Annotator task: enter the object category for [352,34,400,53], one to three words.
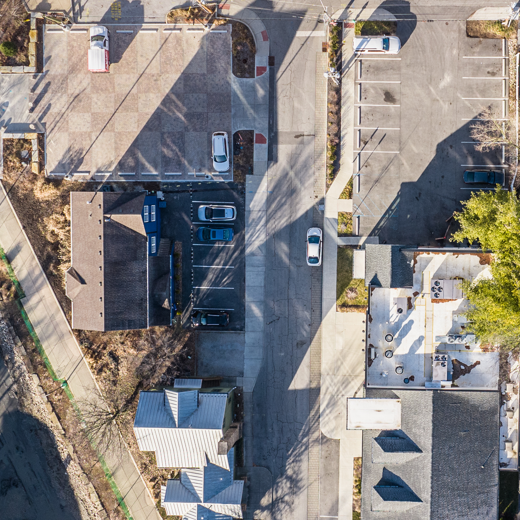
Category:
car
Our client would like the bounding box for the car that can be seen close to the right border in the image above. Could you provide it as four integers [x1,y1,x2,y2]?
[463,168,504,186]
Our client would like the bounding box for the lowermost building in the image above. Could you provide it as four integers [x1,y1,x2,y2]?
[134,384,250,520]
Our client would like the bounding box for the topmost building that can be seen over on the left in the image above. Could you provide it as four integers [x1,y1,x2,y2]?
[66,191,179,332]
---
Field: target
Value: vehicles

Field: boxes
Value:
[210,132,230,171]
[83,22,109,82]
[352,34,400,53]
[196,225,234,243]
[198,204,237,223]
[305,227,324,266]
[192,310,229,328]
[463,168,504,186]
